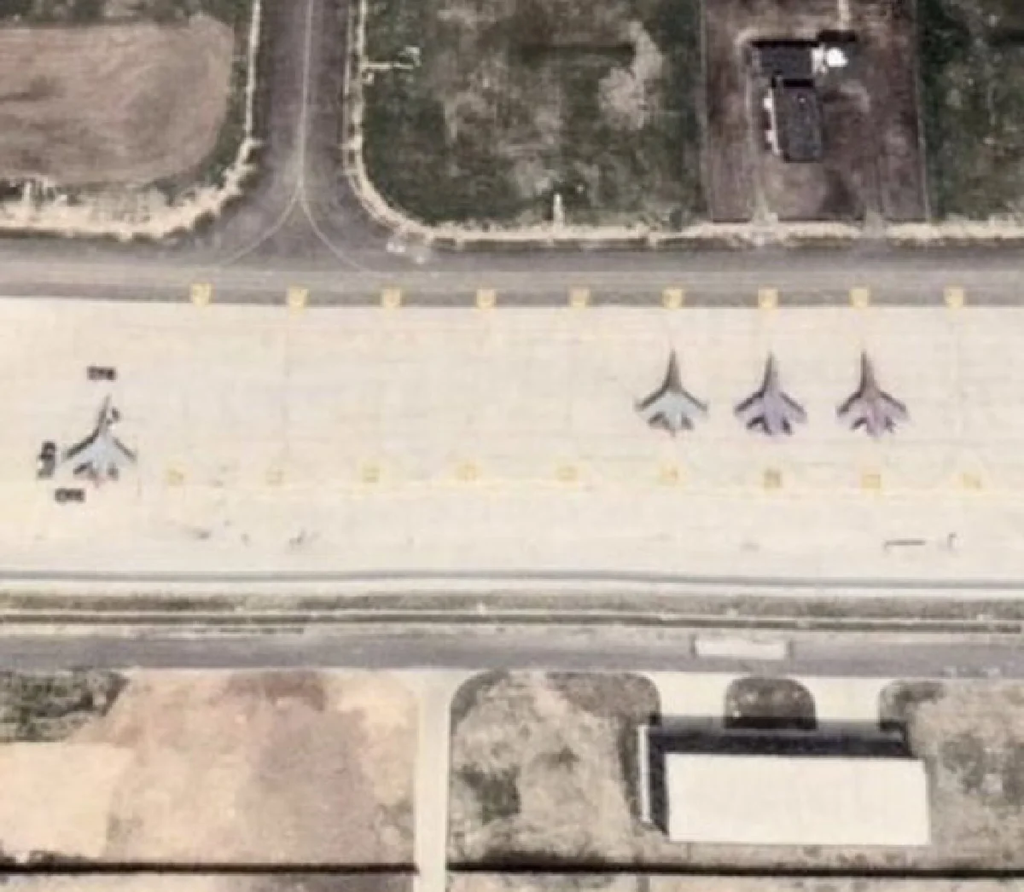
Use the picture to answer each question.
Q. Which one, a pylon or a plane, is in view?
plane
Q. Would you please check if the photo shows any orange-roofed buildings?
No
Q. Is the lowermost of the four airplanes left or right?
left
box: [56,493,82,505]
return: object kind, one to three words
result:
vehicle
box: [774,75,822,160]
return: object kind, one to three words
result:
building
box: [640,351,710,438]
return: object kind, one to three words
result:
airplane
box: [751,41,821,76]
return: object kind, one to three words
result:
building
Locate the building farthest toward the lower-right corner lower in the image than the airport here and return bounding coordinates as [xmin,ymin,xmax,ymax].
[651,734,930,846]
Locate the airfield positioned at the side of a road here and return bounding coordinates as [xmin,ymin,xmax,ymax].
[0,0,1024,581]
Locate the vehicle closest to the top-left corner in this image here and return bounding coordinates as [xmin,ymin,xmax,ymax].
[88,371,114,383]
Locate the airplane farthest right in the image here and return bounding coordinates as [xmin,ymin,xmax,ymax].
[836,351,906,438]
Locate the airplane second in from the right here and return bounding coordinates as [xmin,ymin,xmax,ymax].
[739,352,809,439]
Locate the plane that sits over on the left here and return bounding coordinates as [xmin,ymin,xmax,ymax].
[68,398,138,484]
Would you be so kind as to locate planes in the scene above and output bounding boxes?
[640,351,710,438]
[739,352,809,439]
[836,351,906,438]
[68,398,138,484]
